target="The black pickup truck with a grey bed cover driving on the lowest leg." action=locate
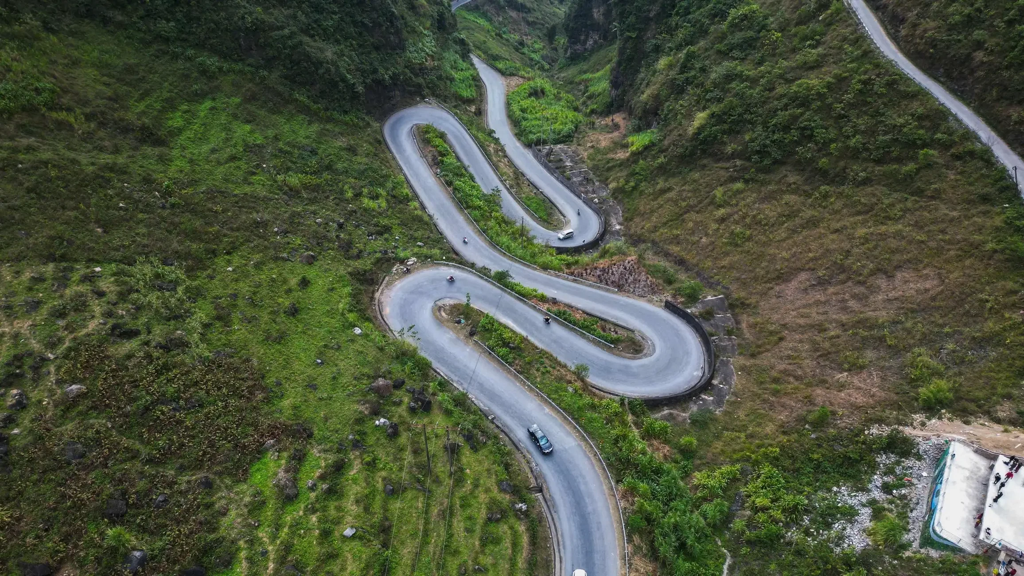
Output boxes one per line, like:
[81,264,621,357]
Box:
[527,424,554,454]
